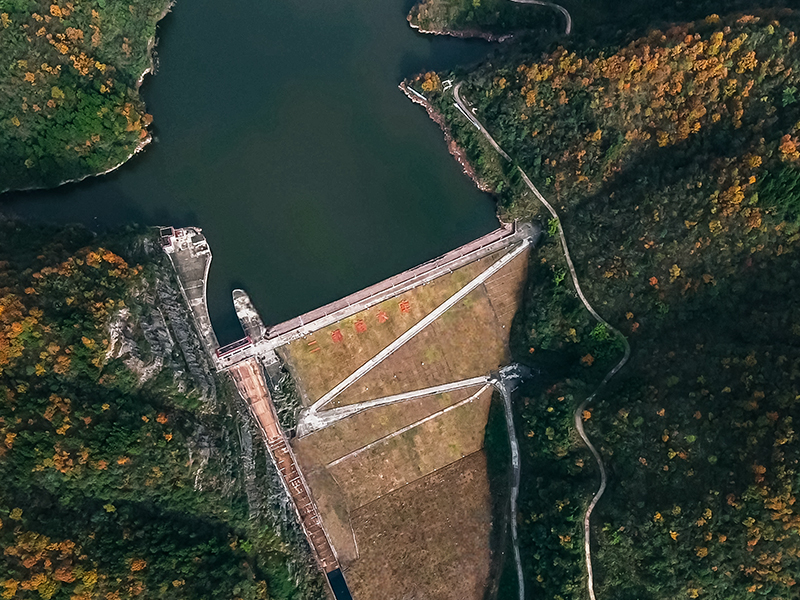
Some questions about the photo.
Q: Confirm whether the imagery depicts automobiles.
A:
No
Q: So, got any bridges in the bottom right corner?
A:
No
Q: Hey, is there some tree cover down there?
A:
Yes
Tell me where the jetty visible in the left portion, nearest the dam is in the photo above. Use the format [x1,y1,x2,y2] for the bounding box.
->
[232,290,268,349]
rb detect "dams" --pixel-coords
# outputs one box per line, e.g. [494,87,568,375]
[266,213,533,600]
